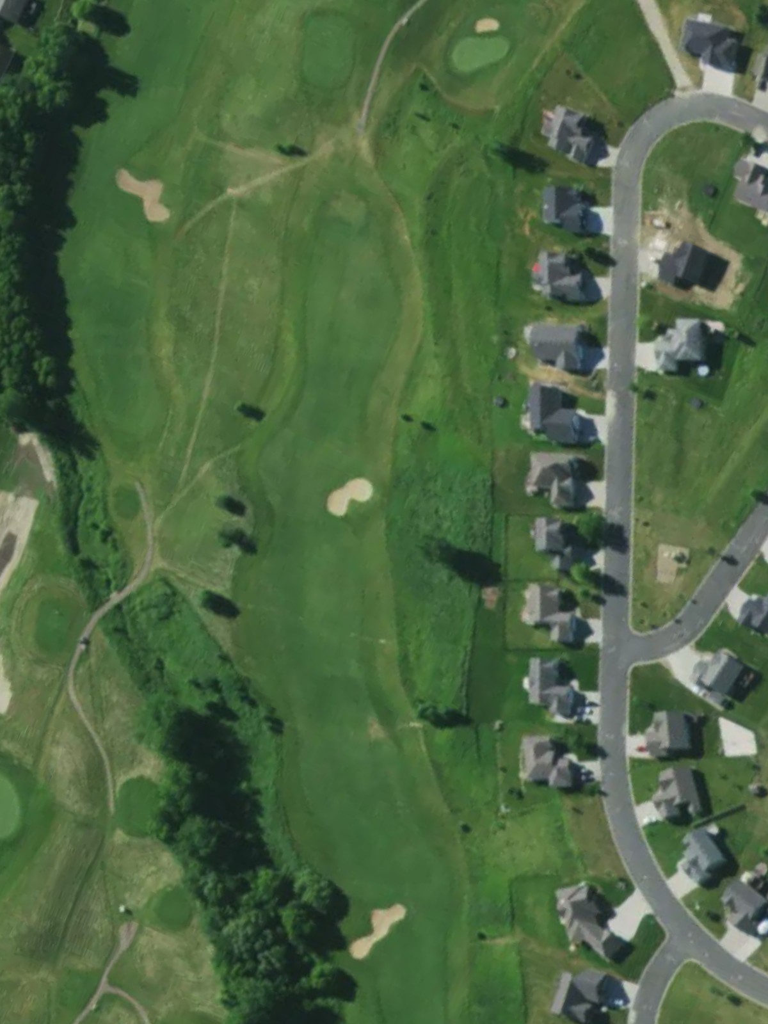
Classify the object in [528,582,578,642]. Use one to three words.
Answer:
house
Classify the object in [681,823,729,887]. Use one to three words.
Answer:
house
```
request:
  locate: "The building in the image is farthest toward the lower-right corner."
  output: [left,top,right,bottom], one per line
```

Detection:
[719,875,768,939]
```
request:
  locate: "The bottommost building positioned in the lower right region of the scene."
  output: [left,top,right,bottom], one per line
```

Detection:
[551,967,611,1024]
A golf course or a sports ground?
golf course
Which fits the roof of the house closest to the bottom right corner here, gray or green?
gray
